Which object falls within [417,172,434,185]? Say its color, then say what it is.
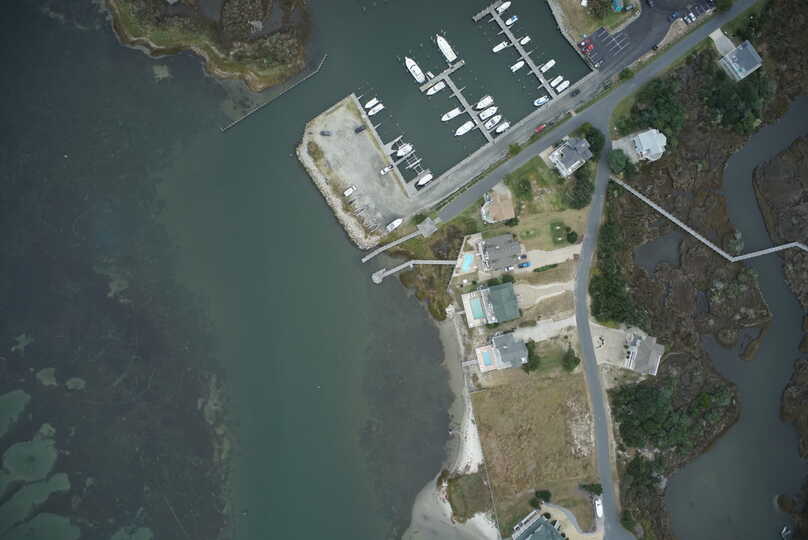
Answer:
white boat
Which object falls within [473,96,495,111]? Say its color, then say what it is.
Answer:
white boat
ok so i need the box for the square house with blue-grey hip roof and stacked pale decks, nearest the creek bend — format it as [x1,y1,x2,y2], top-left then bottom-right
[711,39,763,84]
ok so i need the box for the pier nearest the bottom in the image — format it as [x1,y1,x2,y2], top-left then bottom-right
[372,259,457,284]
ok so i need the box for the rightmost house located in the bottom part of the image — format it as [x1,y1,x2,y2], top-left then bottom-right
[620,335,663,379]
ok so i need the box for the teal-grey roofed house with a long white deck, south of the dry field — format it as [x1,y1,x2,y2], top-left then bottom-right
[511,509,566,540]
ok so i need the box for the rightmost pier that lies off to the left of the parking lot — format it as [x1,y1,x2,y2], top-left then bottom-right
[471,0,559,98]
